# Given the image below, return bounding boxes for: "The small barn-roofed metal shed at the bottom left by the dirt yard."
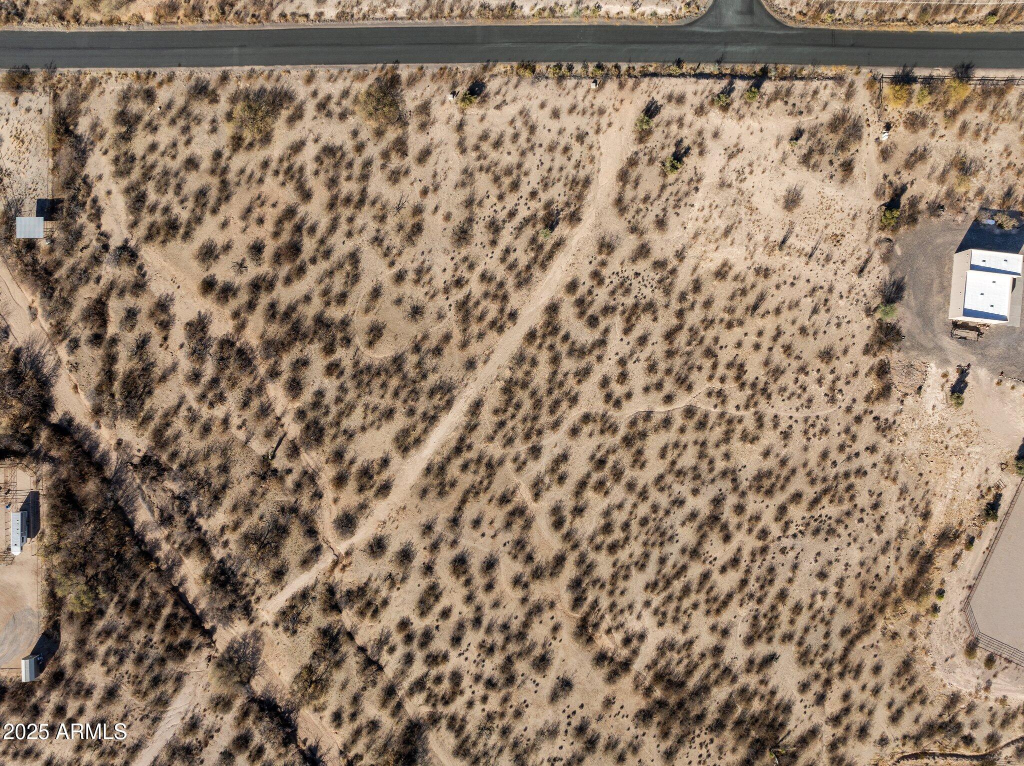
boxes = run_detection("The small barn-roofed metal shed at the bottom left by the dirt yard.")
[23,654,40,681]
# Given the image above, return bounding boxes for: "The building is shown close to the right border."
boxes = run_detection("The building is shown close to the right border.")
[949,249,1024,322]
